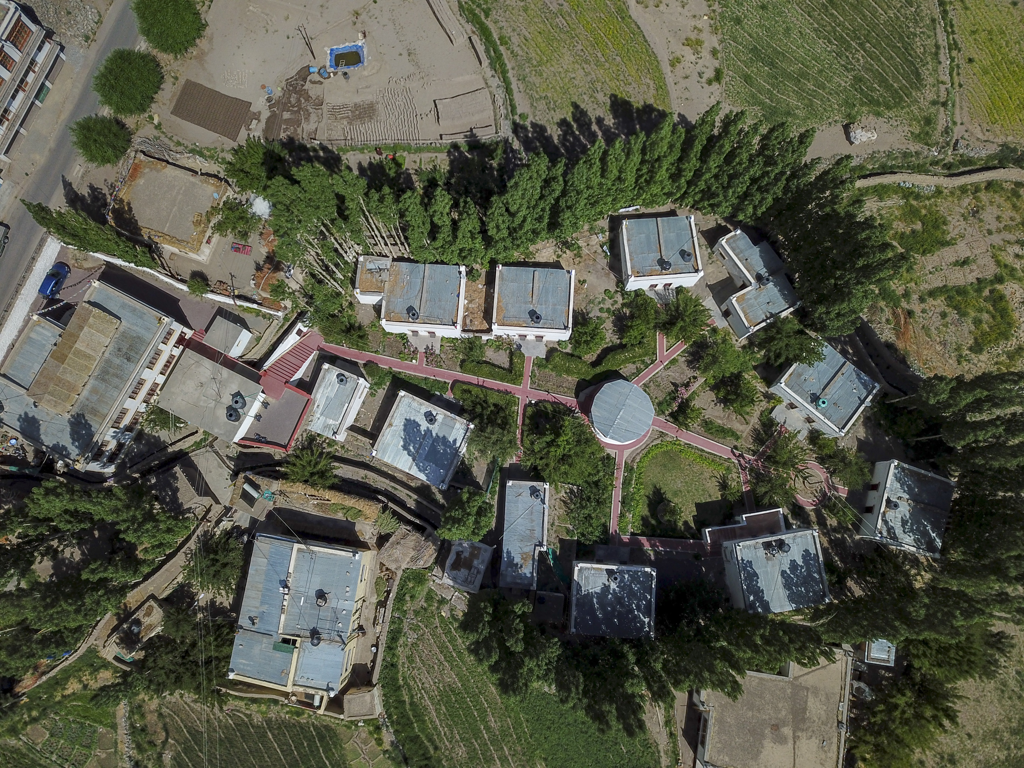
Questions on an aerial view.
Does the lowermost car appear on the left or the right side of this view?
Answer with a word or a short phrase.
left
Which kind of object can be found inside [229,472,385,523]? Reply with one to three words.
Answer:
building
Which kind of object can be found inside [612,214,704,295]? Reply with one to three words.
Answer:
house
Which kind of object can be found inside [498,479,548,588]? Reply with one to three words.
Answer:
house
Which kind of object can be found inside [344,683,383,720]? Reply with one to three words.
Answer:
shed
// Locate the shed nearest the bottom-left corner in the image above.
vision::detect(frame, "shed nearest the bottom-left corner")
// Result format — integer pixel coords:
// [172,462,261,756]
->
[103,596,174,659]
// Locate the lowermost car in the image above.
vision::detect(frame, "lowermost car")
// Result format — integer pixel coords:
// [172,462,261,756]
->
[37,262,74,302]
